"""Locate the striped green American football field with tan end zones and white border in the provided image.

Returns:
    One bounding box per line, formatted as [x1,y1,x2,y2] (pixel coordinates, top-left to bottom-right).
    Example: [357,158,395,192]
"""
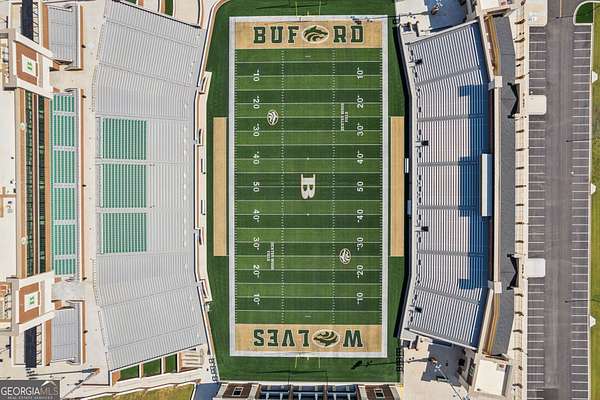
[213,16,404,355]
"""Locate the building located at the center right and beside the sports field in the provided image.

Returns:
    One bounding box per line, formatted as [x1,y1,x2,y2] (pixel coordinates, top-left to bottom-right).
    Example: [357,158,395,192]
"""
[465,8,523,362]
